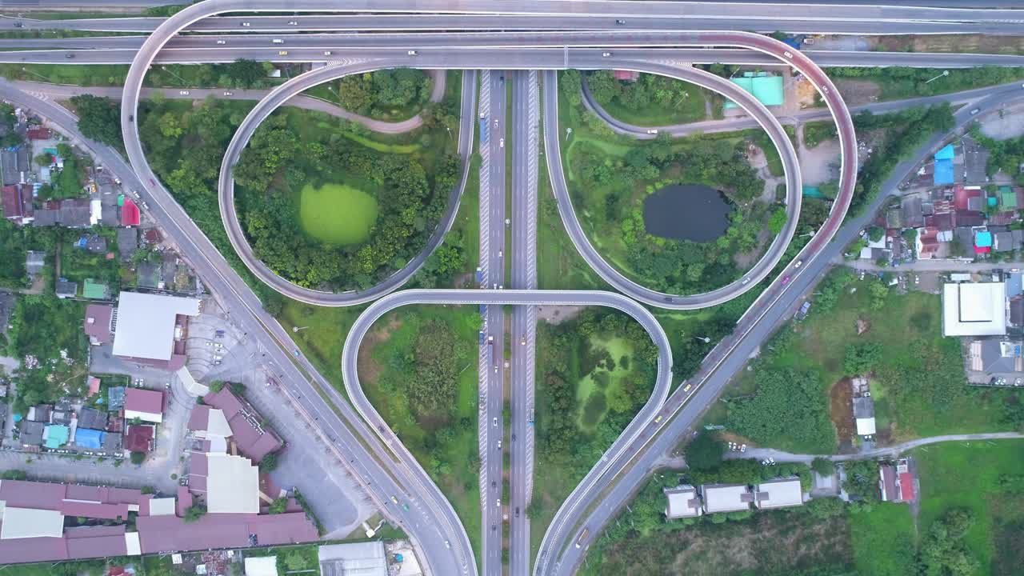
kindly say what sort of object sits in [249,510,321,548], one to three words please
building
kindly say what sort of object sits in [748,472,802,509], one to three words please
building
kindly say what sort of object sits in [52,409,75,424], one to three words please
house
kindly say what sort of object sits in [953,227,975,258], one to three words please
house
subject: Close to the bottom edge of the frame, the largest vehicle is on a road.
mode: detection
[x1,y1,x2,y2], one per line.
[575,530,590,549]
